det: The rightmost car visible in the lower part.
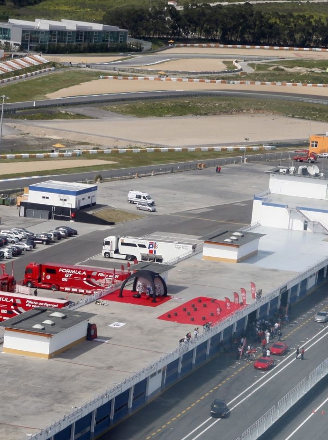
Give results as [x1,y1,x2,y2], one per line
[314,310,328,323]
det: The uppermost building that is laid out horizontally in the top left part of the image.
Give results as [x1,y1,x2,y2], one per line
[0,16,134,51]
